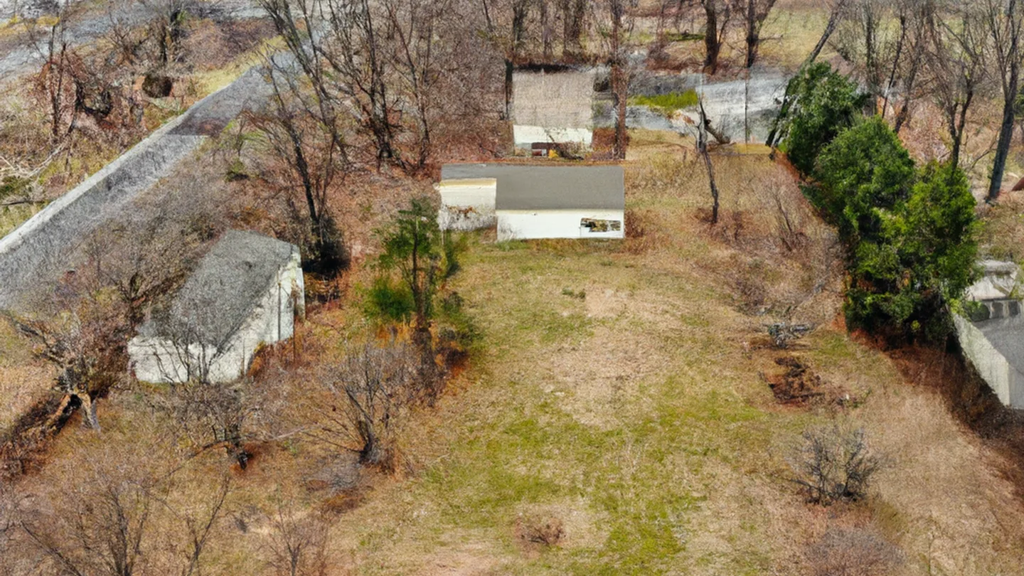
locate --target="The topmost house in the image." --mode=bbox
[511,68,599,159]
